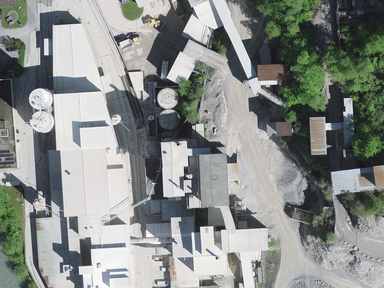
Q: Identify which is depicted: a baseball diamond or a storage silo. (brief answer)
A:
storage silo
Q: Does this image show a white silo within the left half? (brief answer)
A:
Yes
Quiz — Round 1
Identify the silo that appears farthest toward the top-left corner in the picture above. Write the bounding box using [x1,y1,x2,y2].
[29,88,53,112]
